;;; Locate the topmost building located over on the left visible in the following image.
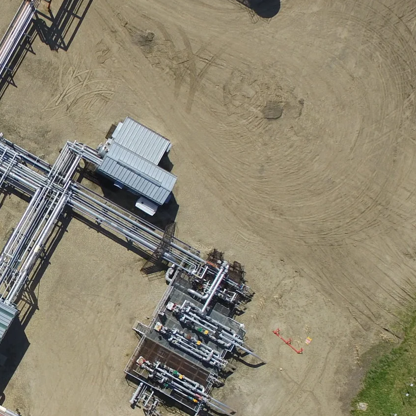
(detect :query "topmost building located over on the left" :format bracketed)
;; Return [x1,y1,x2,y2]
[100,115,173,164]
